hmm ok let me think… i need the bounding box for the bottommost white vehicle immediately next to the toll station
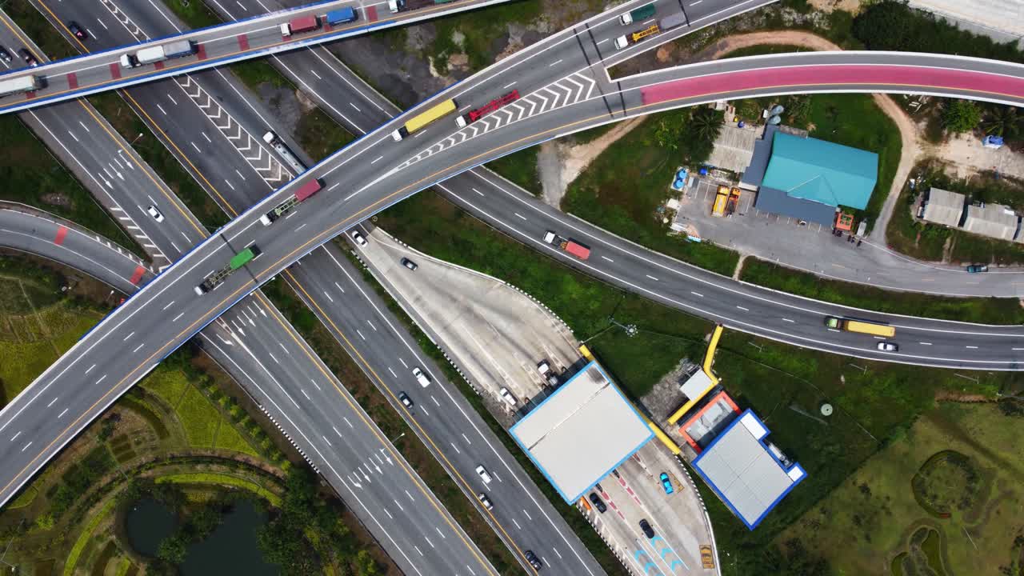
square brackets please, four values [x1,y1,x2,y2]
[499,387,518,408]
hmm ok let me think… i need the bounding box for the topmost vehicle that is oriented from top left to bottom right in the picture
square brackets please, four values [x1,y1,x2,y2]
[70,21,88,40]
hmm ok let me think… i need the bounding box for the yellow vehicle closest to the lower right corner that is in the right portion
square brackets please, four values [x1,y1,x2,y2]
[823,317,896,336]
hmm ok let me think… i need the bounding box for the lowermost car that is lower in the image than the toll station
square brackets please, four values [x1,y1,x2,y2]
[524,550,542,570]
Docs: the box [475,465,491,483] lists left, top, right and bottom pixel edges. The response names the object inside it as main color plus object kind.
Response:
white car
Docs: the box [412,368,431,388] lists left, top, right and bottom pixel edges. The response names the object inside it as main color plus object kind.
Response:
white vehicle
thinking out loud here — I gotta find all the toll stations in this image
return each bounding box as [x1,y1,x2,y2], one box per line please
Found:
[510,361,655,504]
